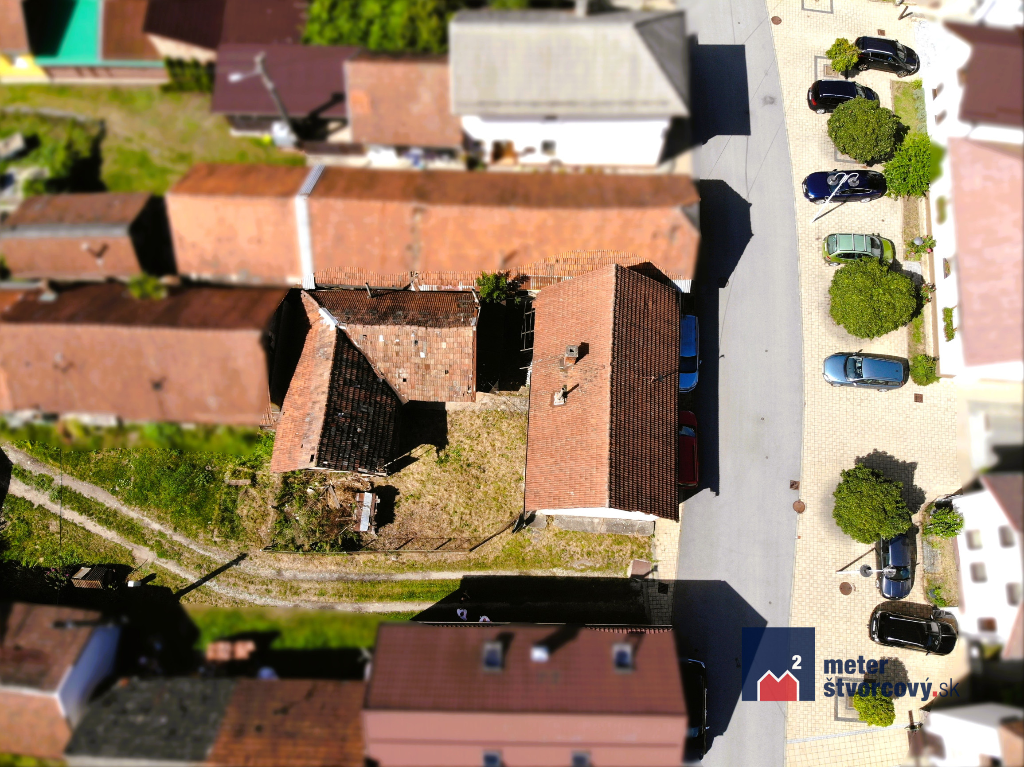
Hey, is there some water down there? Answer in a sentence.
No, there's no water in this view.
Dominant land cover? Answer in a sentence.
The bulk of the photo consists of buildings.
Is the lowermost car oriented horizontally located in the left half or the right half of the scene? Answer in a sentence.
It is on the right.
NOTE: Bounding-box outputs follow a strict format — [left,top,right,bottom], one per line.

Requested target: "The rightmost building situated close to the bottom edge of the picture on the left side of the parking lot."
[356,621,694,767]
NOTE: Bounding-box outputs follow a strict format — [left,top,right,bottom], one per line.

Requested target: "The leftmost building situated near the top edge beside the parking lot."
[451,9,690,172]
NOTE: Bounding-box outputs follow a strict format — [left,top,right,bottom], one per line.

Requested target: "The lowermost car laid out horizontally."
[868,605,963,657]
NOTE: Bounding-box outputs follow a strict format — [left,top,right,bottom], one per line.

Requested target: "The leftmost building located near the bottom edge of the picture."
[0,603,139,760]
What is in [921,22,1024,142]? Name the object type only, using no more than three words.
house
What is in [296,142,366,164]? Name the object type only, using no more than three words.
shed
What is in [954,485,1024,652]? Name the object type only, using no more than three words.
house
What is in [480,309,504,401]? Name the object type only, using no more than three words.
shed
